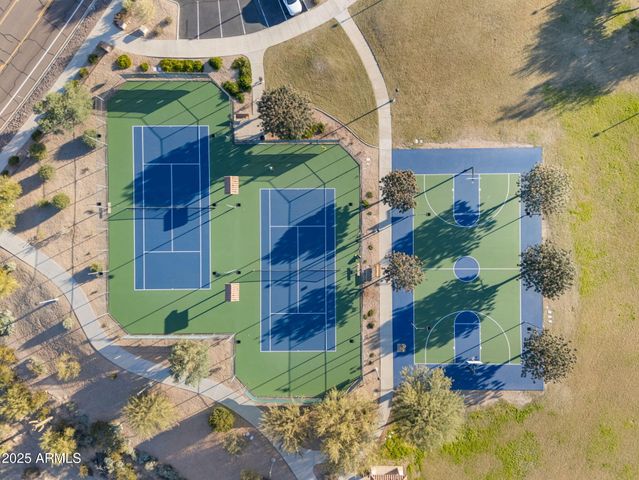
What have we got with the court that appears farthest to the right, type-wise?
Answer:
basketball court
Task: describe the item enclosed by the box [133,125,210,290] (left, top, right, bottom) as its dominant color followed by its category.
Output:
blue tennis court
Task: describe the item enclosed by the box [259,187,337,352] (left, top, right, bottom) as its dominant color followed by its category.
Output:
blue tennis court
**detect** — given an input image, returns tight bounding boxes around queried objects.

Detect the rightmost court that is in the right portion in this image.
[393,148,544,392]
